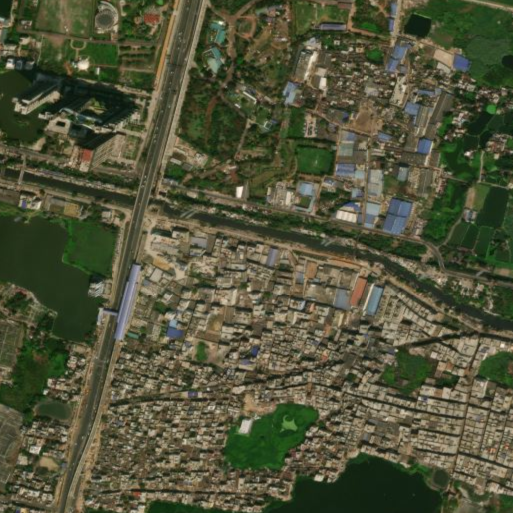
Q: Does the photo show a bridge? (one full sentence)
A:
Yes, the frame does contain a bridge.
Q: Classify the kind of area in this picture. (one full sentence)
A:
The picture captures a residential area.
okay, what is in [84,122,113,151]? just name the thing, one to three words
building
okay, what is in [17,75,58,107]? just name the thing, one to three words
building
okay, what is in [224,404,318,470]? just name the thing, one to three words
pond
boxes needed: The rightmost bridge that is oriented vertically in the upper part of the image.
[162,0,207,171]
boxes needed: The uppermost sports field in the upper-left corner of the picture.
[37,0,92,38]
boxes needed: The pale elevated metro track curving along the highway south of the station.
[67,340,121,513]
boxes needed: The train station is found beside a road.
[115,265,141,341]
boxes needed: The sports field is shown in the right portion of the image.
[297,146,334,175]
